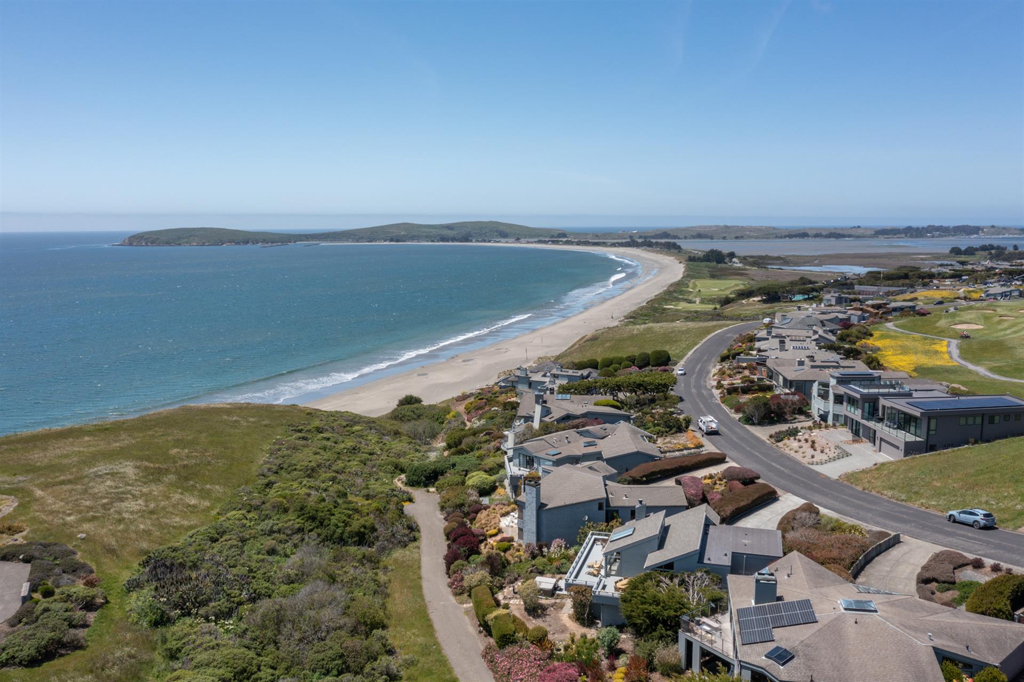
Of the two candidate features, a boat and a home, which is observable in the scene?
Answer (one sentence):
Visible in the photo is a home.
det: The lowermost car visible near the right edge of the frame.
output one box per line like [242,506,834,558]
[946,508,1000,531]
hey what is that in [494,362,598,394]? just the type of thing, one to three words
house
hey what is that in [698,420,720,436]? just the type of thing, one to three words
vehicle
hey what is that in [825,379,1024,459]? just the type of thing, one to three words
house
